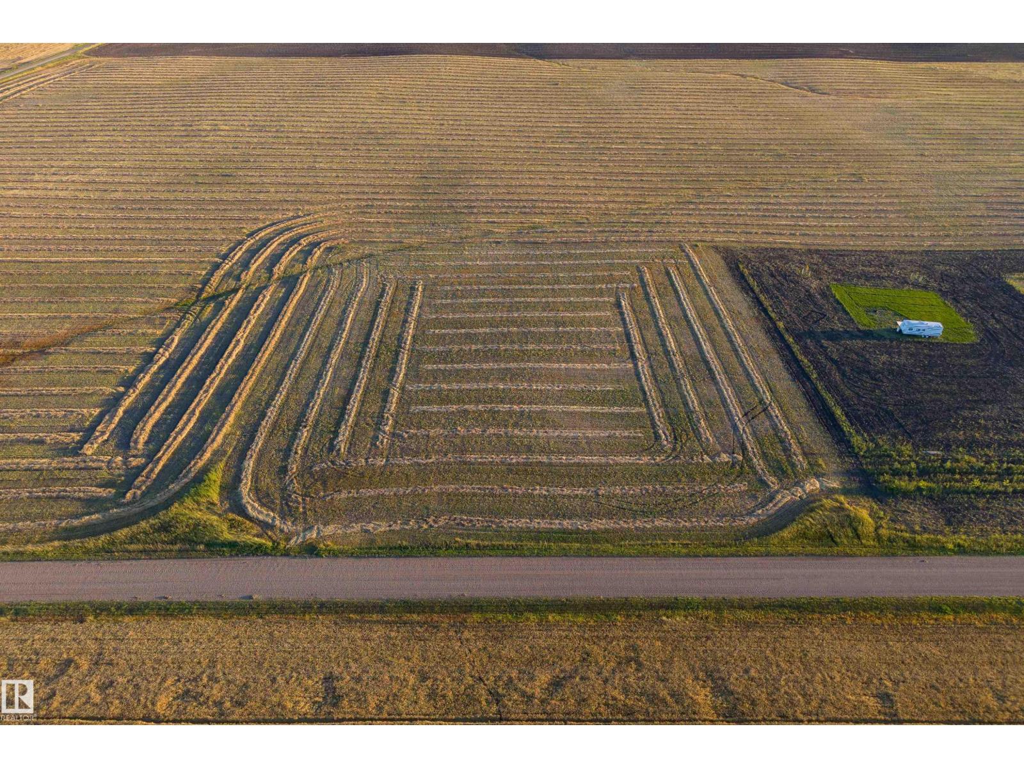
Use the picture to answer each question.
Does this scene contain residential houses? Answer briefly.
No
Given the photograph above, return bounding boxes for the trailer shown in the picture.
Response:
[898,319,946,337]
